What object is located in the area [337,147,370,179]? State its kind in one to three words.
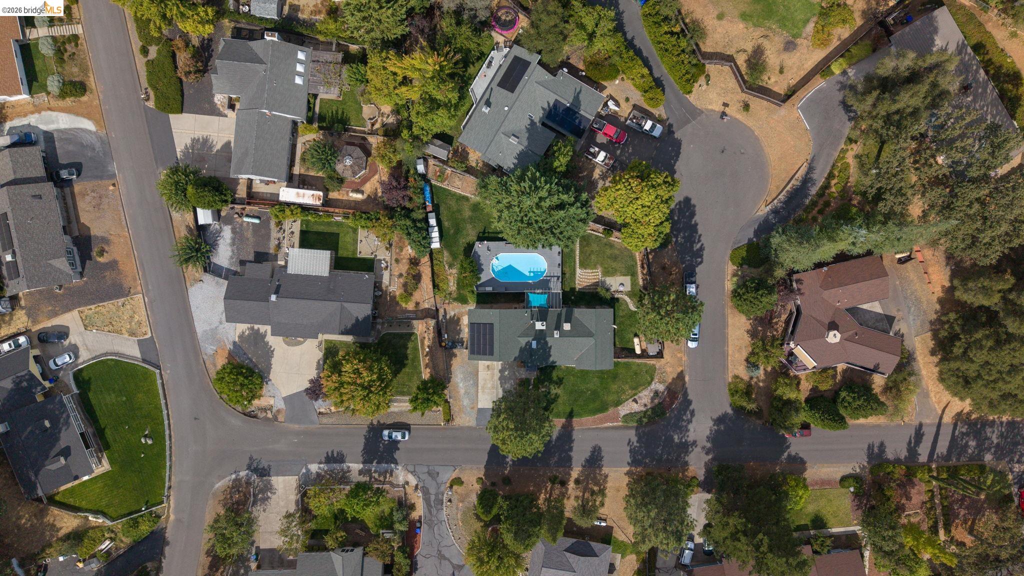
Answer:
gazebo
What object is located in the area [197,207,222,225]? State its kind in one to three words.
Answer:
shed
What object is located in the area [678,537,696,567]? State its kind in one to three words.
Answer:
car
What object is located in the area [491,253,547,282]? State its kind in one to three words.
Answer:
swimming pool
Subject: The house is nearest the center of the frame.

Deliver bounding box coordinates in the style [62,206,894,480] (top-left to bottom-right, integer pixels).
[468,307,614,370]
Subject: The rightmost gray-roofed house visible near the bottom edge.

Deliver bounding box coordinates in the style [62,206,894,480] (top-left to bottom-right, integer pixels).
[532,535,612,576]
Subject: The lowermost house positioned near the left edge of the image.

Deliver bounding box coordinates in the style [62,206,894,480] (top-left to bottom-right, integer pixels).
[0,345,104,500]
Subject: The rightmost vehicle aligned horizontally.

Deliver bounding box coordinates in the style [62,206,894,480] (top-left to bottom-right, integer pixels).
[783,428,813,441]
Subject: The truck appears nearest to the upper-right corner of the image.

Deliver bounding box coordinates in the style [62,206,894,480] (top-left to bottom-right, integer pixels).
[625,111,663,137]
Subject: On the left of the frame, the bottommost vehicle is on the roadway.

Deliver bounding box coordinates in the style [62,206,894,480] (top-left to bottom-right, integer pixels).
[382,428,409,441]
